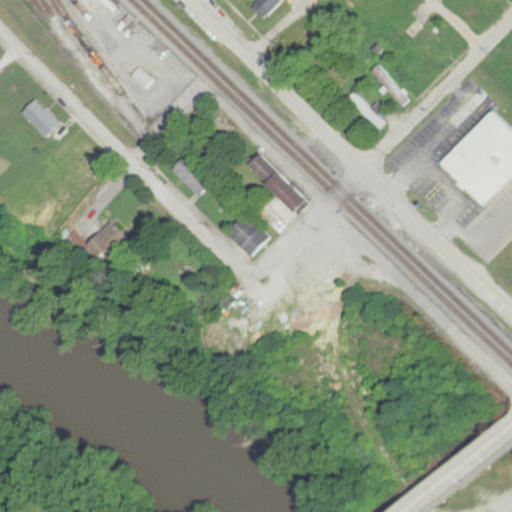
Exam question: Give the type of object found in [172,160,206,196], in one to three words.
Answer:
house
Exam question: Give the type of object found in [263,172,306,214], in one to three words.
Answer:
building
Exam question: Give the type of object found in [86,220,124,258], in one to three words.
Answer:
house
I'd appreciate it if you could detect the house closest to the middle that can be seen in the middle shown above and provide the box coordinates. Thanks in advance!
[228,222,270,258]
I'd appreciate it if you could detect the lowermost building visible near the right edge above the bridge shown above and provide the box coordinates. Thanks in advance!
[438,113,512,208]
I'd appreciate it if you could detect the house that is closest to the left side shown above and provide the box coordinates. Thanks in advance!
[23,100,60,138]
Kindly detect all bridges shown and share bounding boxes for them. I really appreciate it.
[380,406,512,512]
